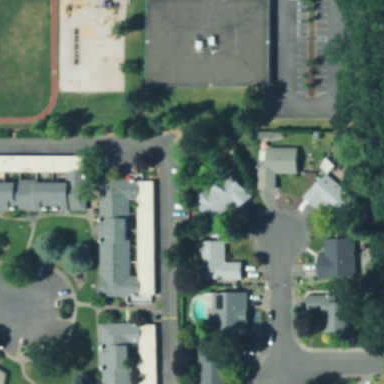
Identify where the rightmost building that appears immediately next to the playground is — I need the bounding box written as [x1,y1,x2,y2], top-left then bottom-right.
[147,0,270,86]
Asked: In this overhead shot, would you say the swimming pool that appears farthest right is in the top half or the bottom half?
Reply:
bottom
